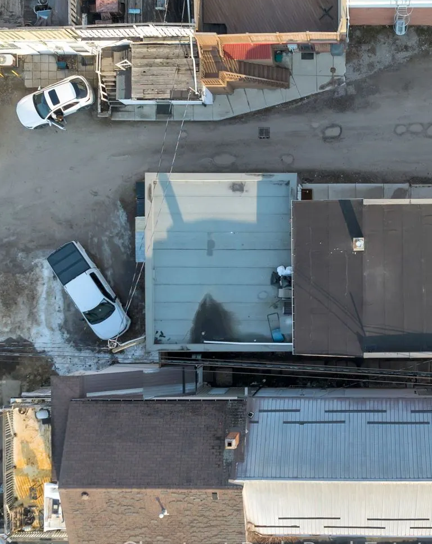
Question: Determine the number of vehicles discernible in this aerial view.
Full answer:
My tally gives 2 vehicles in this view.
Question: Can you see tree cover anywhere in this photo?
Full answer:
No, the picture contains no tree cover.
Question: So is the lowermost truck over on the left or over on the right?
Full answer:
The lowermost truck is on the left side of the image.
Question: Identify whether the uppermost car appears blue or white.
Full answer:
From above, the uppermost car appears white.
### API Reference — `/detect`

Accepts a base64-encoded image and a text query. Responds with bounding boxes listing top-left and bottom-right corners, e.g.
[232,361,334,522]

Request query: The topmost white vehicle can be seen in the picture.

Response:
[15,76,101,133]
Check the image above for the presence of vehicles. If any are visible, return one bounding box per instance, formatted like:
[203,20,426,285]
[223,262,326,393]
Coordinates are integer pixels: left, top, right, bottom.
[15,76,101,133]
[47,239,130,338]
